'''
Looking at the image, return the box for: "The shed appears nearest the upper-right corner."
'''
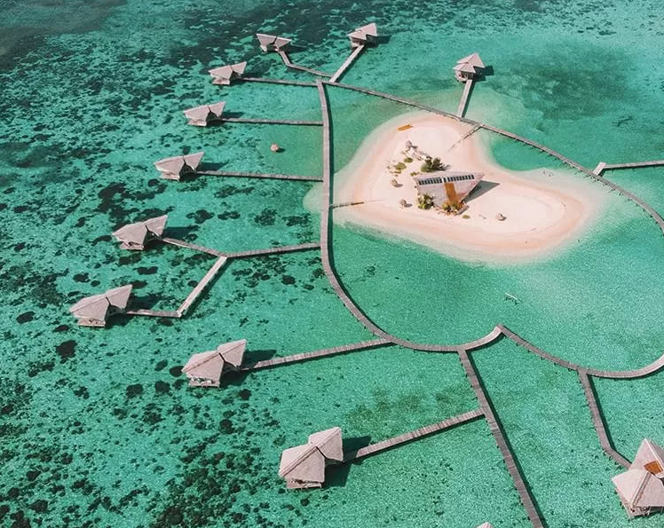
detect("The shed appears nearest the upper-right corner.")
[455,53,484,86]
